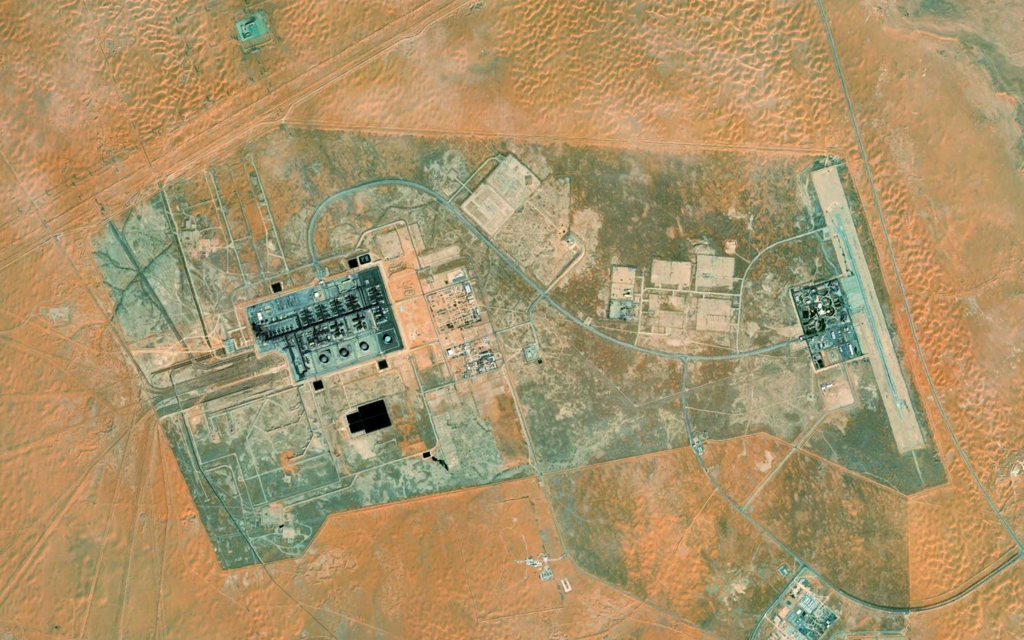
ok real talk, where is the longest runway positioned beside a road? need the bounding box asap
[811,167,924,453]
